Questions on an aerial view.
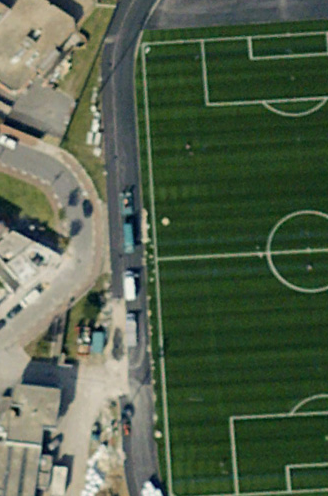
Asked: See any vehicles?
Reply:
Yes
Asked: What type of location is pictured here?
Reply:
sports ground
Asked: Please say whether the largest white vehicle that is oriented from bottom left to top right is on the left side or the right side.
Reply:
left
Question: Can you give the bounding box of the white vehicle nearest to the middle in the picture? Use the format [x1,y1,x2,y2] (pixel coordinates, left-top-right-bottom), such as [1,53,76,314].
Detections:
[122,268,138,303]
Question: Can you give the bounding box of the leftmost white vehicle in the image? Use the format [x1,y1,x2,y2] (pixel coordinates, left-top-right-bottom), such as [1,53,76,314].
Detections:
[0,135,18,150]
